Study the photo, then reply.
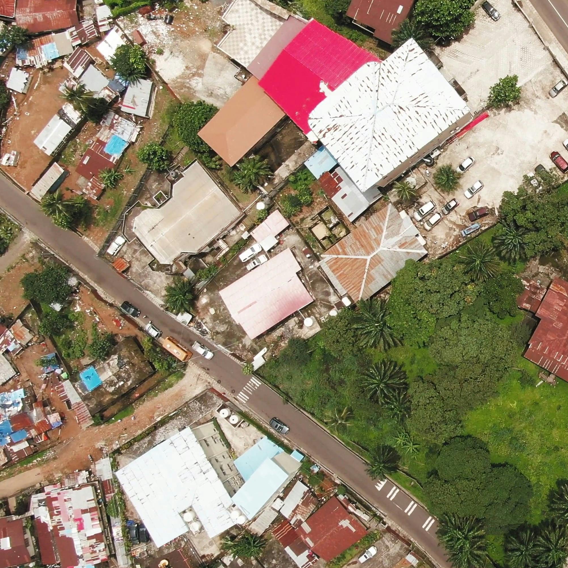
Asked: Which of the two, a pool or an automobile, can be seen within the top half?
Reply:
automobile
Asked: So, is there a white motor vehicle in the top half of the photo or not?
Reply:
Yes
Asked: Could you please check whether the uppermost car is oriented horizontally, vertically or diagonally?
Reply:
diagonally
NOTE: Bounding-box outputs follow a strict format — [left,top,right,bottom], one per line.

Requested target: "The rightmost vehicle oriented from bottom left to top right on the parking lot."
[548,77,568,99]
